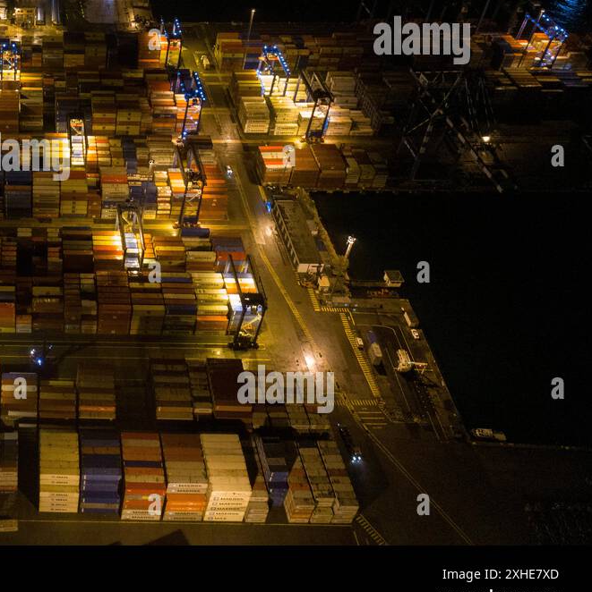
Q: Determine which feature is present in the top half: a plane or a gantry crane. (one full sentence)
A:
There is a gantry crane in the top half.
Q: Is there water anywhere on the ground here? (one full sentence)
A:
Yes, there's water in this view.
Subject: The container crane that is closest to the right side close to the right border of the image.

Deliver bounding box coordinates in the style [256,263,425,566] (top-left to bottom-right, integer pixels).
[528,17,574,69]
